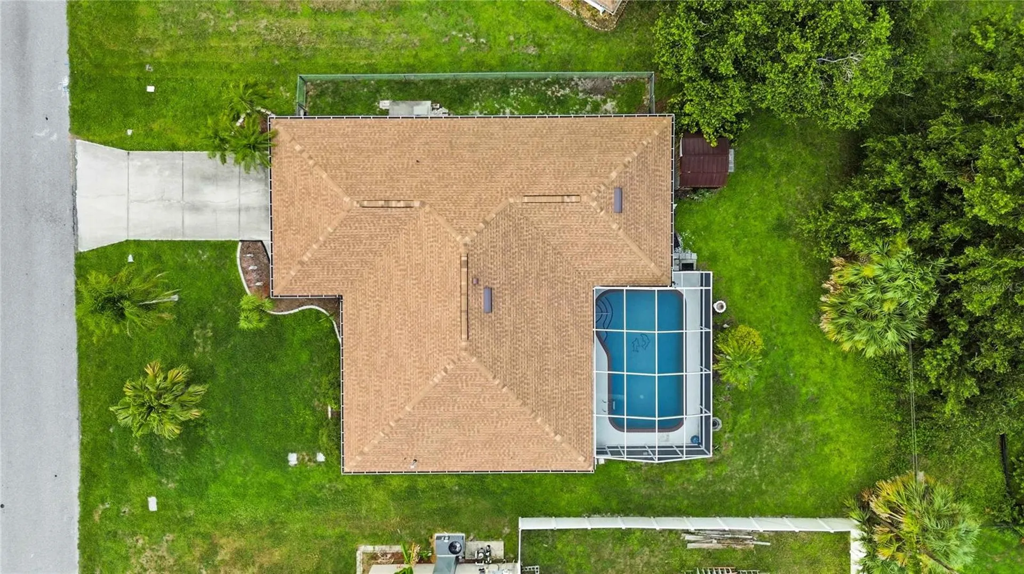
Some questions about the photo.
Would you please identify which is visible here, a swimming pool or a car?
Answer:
swimming pool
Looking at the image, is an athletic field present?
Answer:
No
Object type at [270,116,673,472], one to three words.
house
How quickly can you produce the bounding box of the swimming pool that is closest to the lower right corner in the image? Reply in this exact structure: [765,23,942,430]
[595,289,684,433]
